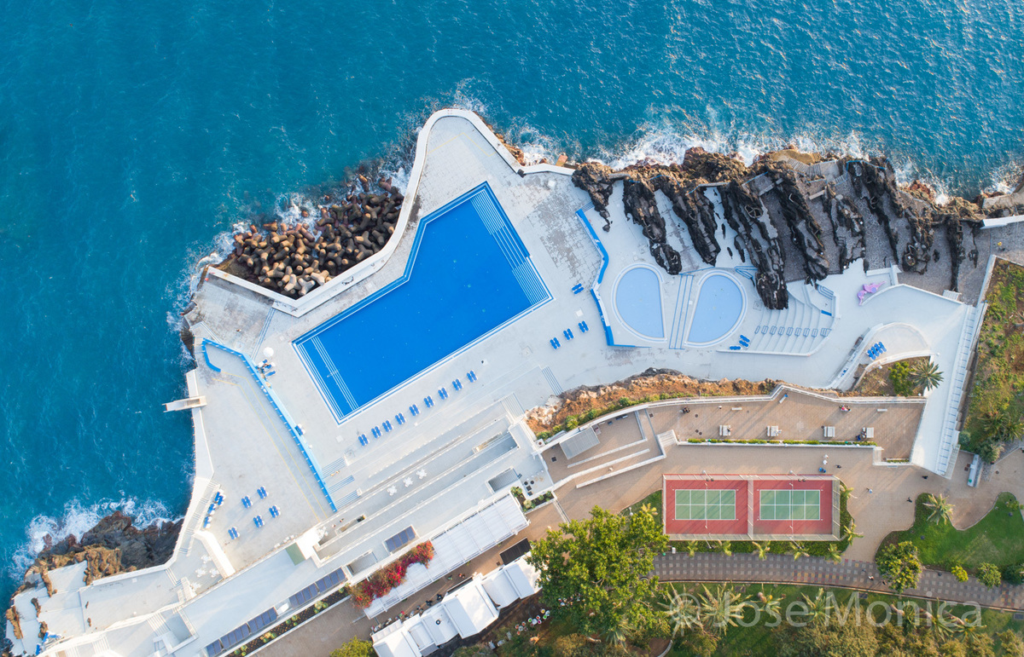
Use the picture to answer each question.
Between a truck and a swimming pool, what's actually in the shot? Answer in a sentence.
It is a swimming pool that can be seen here.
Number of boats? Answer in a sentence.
There are no boats in the image.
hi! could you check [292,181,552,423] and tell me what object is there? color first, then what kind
blue swimming pool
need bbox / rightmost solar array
[386,528,415,552]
